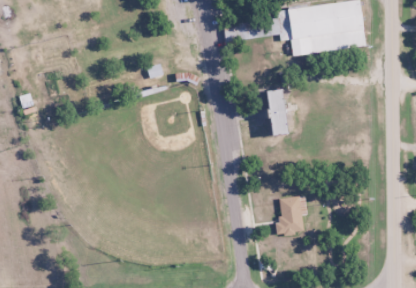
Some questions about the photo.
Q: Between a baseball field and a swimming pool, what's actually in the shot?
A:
baseball field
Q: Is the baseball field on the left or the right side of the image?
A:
left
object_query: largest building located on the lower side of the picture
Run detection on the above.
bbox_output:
[276,197,308,236]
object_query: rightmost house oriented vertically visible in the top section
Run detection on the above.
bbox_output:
[268,89,290,136]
